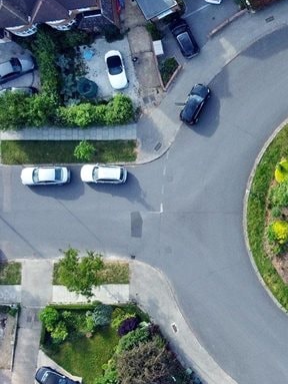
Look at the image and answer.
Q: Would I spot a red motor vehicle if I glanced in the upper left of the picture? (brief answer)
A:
No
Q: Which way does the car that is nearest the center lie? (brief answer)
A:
horizontally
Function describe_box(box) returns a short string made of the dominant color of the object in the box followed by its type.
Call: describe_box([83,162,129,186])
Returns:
white car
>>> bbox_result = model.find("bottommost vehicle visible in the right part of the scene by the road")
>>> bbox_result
[177,82,213,127]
